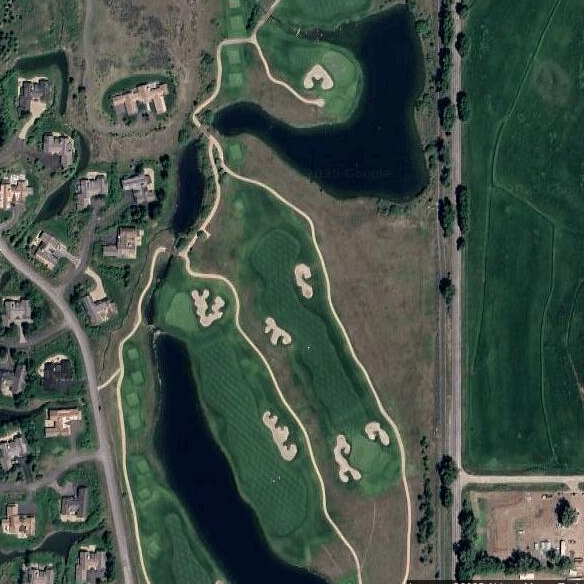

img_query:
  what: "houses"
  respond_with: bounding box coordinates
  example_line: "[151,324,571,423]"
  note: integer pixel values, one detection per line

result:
[111,81,170,115]
[0,170,33,209]
[78,295,118,328]
[60,486,89,522]
[2,294,34,328]
[75,544,106,584]
[2,502,37,539]
[0,363,29,397]
[44,131,76,169]
[43,406,82,438]
[16,75,52,110]
[35,352,74,390]
[76,171,108,209]
[0,428,29,474]
[121,165,156,204]
[103,227,145,260]
[31,229,69,271]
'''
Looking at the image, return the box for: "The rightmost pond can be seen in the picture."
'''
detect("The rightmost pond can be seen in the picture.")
[172,136,205,232]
